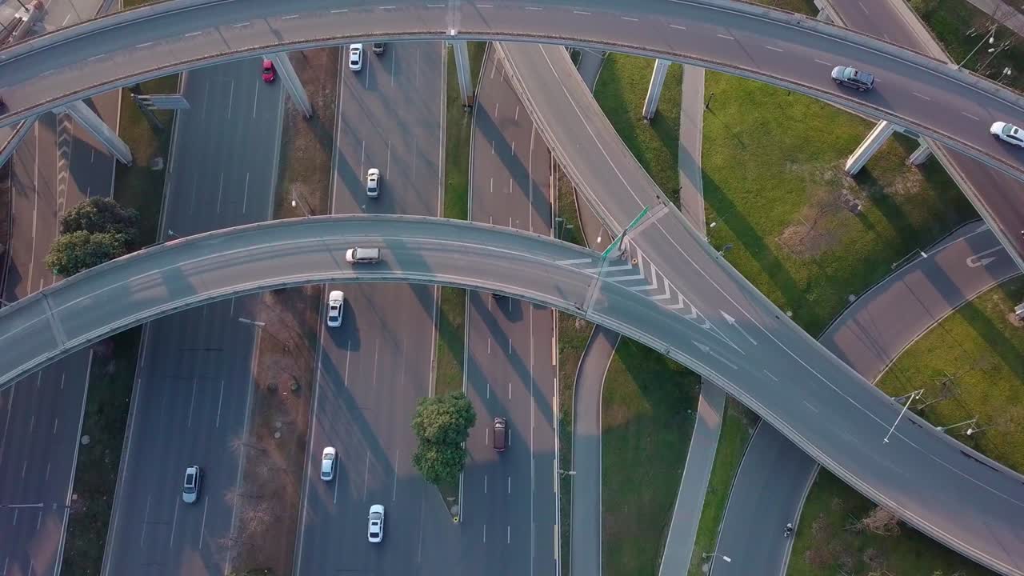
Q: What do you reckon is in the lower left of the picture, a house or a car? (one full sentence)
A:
It is a car that can be seen in the lower left of the picture.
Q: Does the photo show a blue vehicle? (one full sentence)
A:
Yes, a blue vehicle is visible in the scene.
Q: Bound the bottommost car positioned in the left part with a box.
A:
[367,503,385,543]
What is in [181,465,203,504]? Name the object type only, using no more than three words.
car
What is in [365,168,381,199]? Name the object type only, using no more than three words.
car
